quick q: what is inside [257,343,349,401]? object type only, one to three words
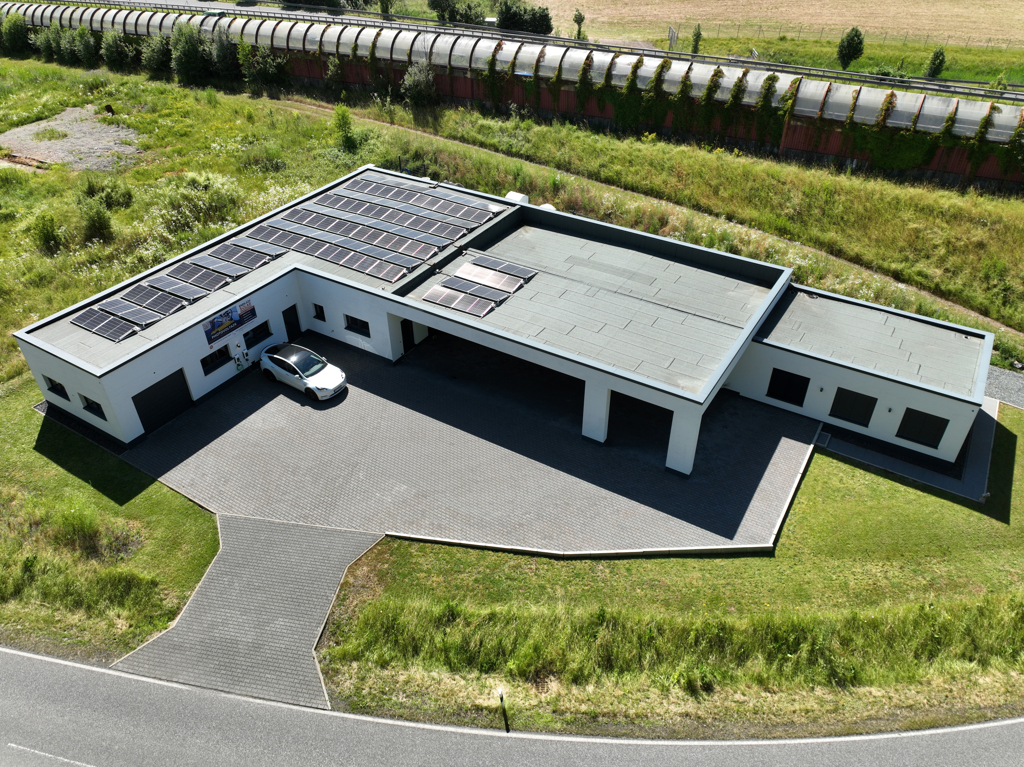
car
